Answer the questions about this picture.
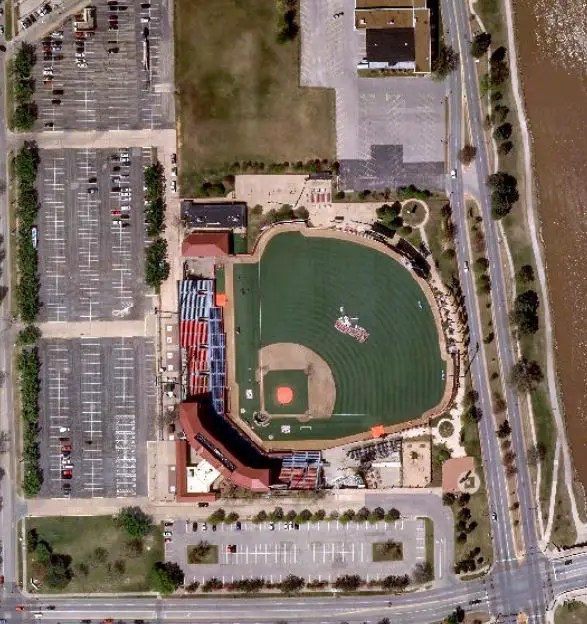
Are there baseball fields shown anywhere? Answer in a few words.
Yes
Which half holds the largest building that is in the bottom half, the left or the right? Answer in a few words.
left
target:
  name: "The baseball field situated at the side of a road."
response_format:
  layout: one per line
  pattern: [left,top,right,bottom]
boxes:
[216,222,454,450]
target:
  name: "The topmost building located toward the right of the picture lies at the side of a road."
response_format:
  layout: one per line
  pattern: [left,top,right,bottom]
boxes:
[355,0,435,73]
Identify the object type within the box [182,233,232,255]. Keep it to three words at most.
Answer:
building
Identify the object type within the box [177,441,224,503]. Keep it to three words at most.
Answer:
building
